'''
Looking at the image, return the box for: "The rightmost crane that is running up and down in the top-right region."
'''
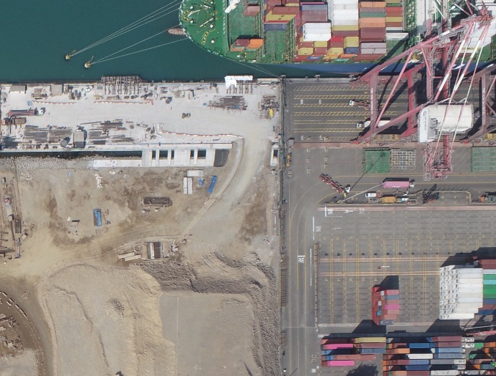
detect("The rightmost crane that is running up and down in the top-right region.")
[460,62,496,143]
